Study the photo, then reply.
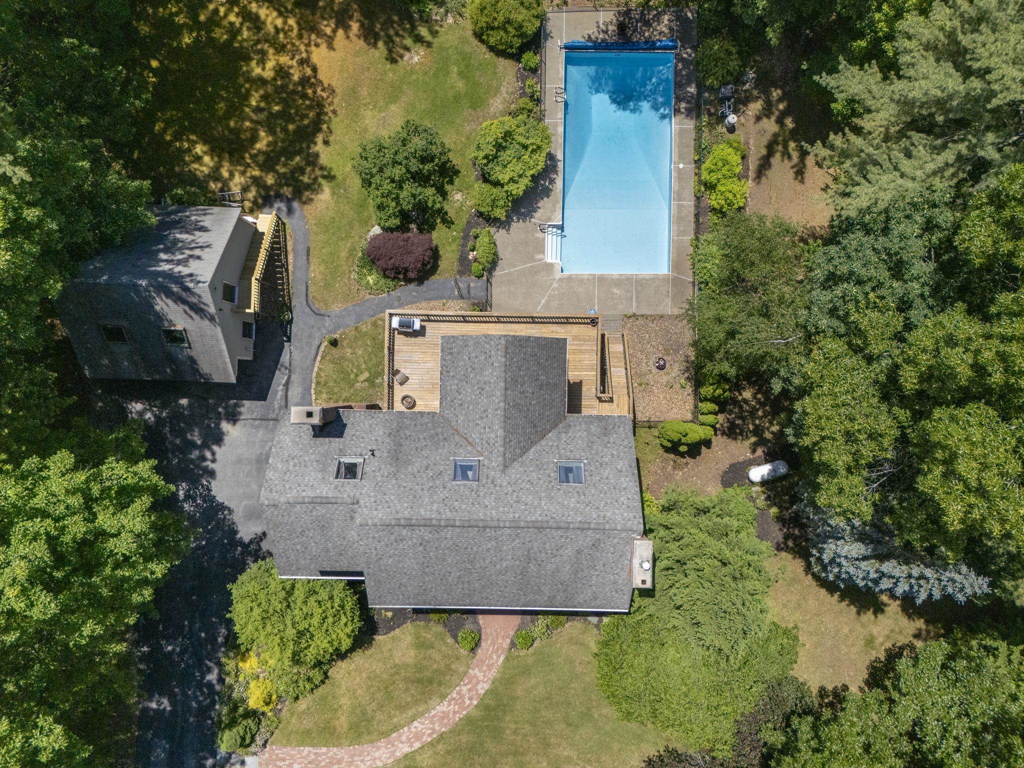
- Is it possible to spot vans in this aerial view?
No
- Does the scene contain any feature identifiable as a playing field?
No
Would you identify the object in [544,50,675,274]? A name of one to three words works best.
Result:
swimming pool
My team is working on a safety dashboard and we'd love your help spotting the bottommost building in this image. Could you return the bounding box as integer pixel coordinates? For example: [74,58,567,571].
[259,334,653,614]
